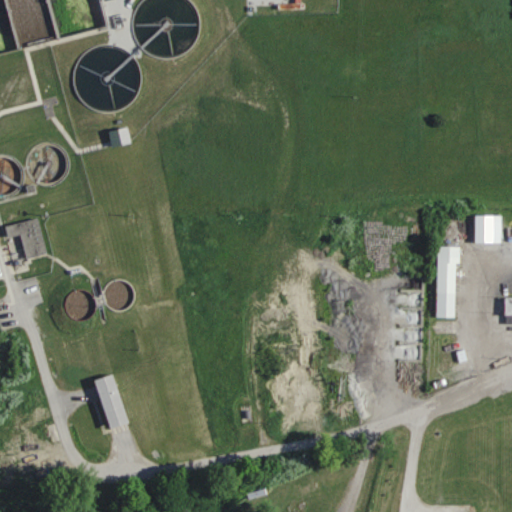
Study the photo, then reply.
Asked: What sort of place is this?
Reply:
industrial area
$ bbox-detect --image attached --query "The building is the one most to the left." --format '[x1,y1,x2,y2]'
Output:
[4,218,46,259]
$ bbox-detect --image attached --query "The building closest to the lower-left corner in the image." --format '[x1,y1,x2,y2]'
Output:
[94,375,128,430]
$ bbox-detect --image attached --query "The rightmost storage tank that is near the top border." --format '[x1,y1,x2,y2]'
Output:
[133,0,201,59]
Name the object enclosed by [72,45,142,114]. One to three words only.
storage tank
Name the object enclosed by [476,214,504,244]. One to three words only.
shed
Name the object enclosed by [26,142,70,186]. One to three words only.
storage tank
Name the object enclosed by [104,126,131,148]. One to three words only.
building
